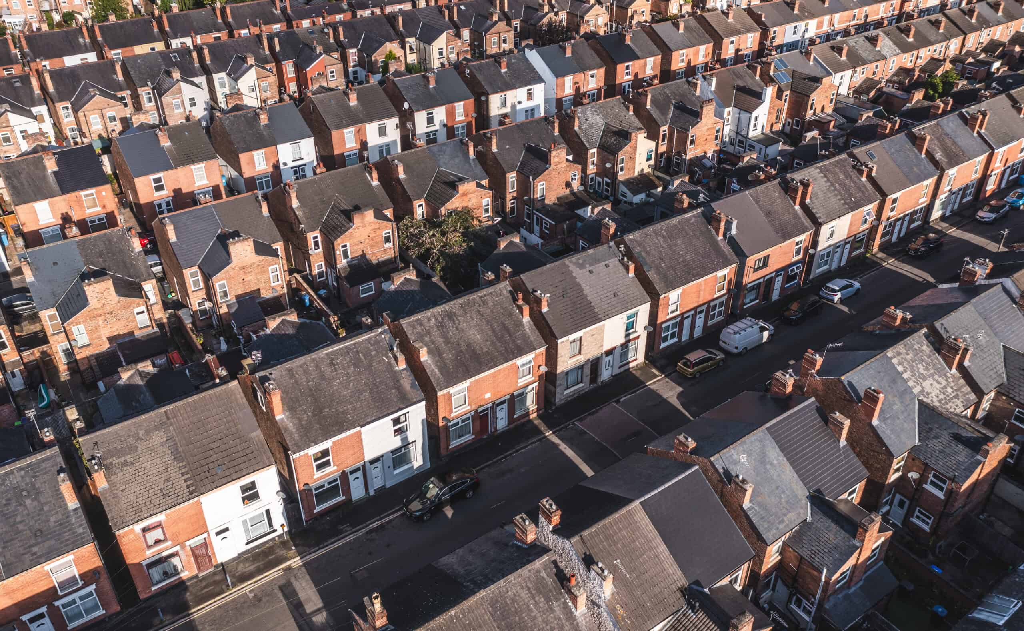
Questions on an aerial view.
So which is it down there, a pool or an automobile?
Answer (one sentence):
This aerial view contains an automobile.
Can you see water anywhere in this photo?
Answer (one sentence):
No, water can't be seen anywhere here.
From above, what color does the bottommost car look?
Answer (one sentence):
In this view, the bottommost car is black.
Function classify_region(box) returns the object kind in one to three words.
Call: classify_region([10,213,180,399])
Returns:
house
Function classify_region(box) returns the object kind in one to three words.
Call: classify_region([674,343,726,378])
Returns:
car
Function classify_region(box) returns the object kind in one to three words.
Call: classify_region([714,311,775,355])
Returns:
van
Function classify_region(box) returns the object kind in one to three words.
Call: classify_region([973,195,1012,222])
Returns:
car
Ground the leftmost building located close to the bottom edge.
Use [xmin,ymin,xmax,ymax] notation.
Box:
[0,406,124,631]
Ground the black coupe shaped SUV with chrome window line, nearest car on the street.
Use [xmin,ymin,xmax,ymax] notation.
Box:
[398,463,480,522]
